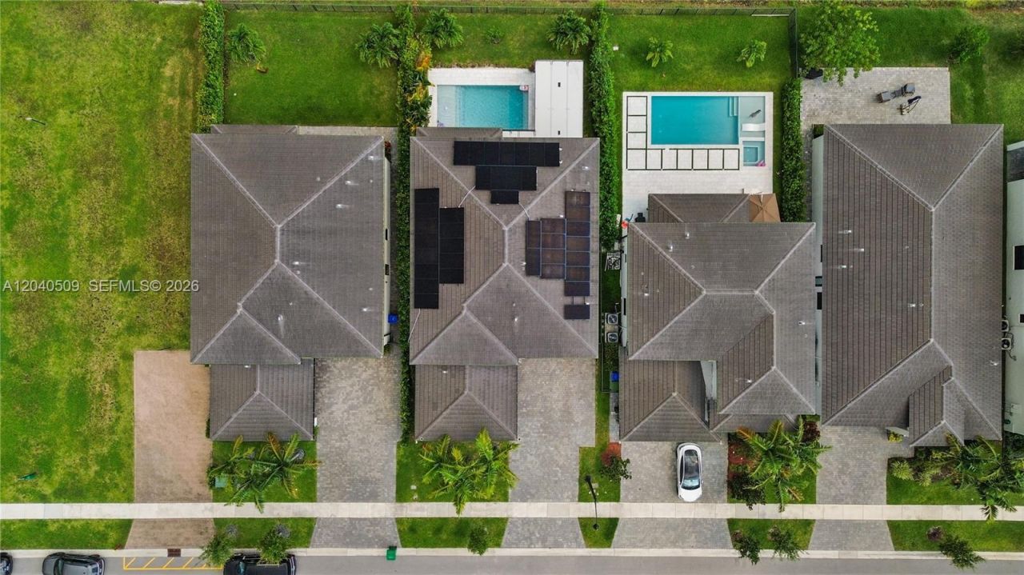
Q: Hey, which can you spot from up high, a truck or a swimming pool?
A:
swimming pool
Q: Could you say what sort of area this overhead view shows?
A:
residential area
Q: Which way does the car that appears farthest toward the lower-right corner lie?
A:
vertically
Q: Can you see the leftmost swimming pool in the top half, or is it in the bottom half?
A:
top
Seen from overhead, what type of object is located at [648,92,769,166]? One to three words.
swimming pool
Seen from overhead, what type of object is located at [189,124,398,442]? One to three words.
house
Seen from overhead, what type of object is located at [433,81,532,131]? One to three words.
swimming pool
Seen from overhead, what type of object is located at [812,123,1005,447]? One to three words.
house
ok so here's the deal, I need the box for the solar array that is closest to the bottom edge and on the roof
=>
[565,305,590,319]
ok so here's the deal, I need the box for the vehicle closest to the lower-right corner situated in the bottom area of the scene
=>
[677,443,707,503]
